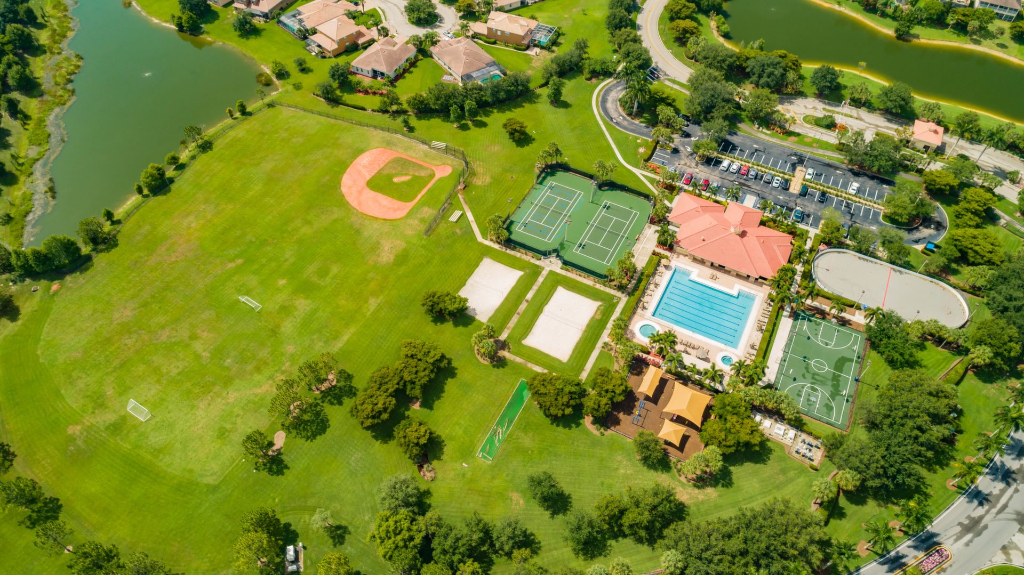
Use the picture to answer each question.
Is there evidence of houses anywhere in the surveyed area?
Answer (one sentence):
Yes, the image includes a house.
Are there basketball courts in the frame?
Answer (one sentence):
Yes, you can see a basketball court in this photo.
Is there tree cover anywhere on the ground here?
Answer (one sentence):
Yes, the picture does contain tree cover.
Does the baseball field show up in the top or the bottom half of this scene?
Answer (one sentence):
Seen from above, the baseball field lies in the top half of the view.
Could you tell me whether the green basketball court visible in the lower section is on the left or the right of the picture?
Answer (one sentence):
The green basketball court visible in the lower section appears in the right half of the scene.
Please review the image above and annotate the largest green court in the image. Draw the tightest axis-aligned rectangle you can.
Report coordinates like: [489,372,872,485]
[770,308,867,432]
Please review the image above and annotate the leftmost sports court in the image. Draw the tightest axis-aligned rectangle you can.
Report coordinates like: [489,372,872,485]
[458,256,523,322]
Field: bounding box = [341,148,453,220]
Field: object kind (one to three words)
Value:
baseball field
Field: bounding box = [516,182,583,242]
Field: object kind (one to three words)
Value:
tennis court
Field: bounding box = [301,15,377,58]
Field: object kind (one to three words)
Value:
house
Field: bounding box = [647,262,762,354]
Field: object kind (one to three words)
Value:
swimming pool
